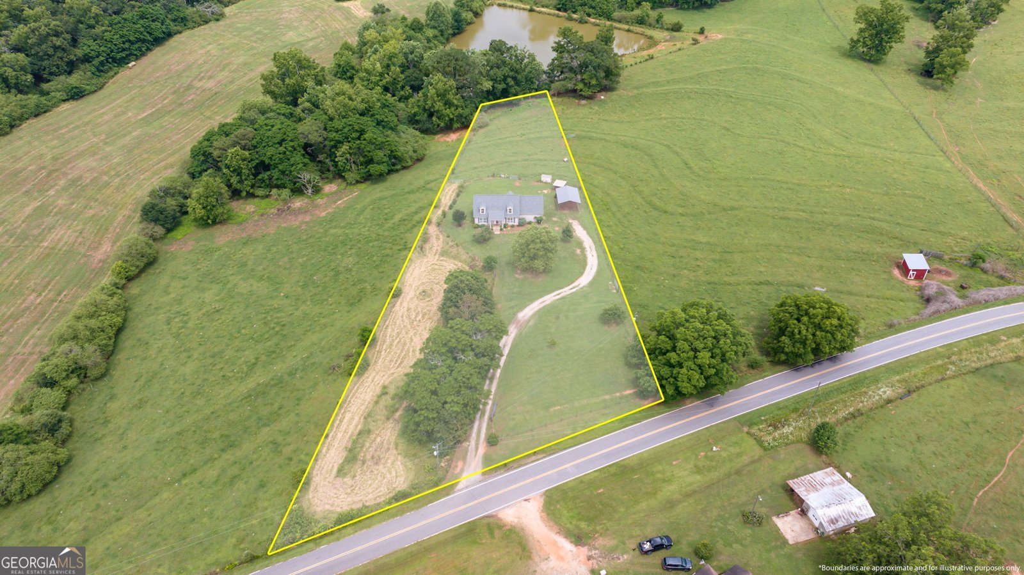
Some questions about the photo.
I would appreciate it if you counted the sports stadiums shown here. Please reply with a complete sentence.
Not a single sports stadium can be seen.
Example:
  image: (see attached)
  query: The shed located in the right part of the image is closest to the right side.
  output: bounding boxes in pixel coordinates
[902,259,929,280]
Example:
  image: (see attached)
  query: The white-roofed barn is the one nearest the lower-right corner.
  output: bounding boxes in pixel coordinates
[788,466,870,535]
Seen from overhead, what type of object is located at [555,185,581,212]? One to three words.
building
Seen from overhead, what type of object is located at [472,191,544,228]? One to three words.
house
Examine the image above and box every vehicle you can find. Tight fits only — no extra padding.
[637,536,673,555]
[662,558,692,573]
